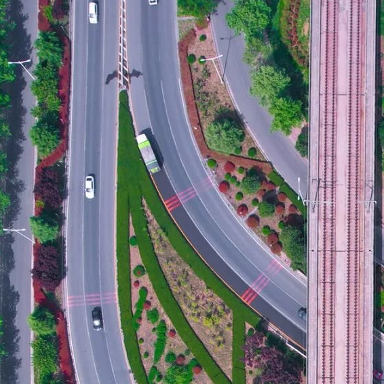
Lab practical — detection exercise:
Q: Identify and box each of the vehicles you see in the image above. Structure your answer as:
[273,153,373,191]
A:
[92,308,103,330]
[373,368,384,384]
[149,0,159,8]
[134,131,162,177]
[292,306,307,324]
[84,175,95,198]
[88,2,99,25]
